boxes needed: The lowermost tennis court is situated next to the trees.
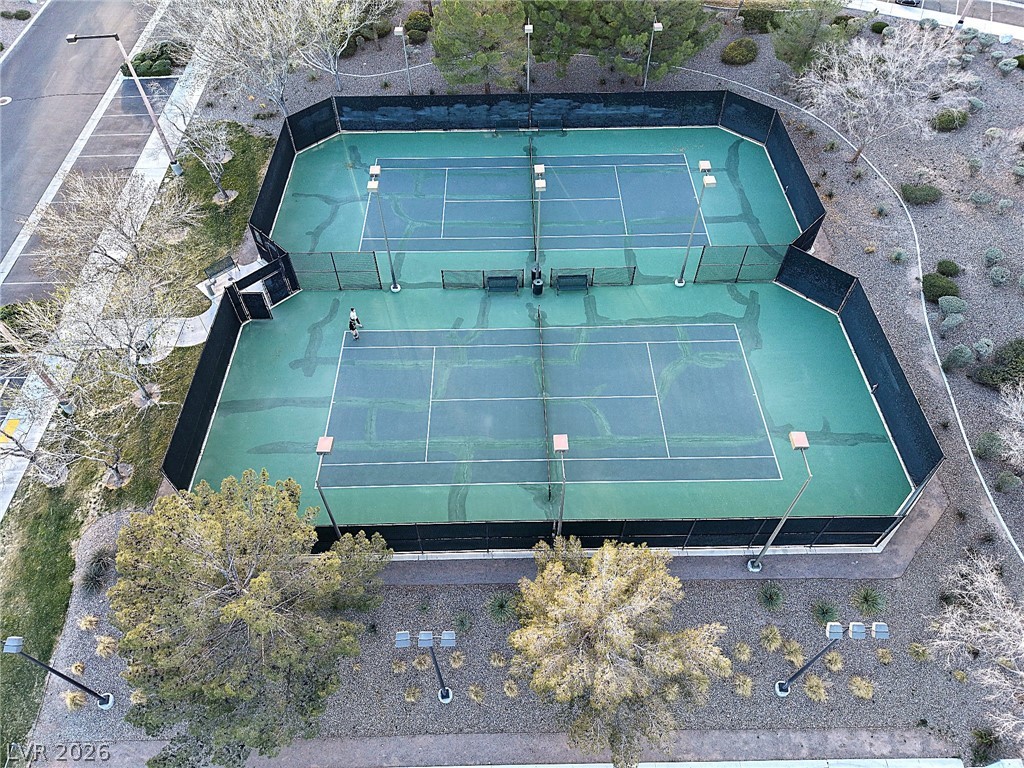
[189,281,911,528]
